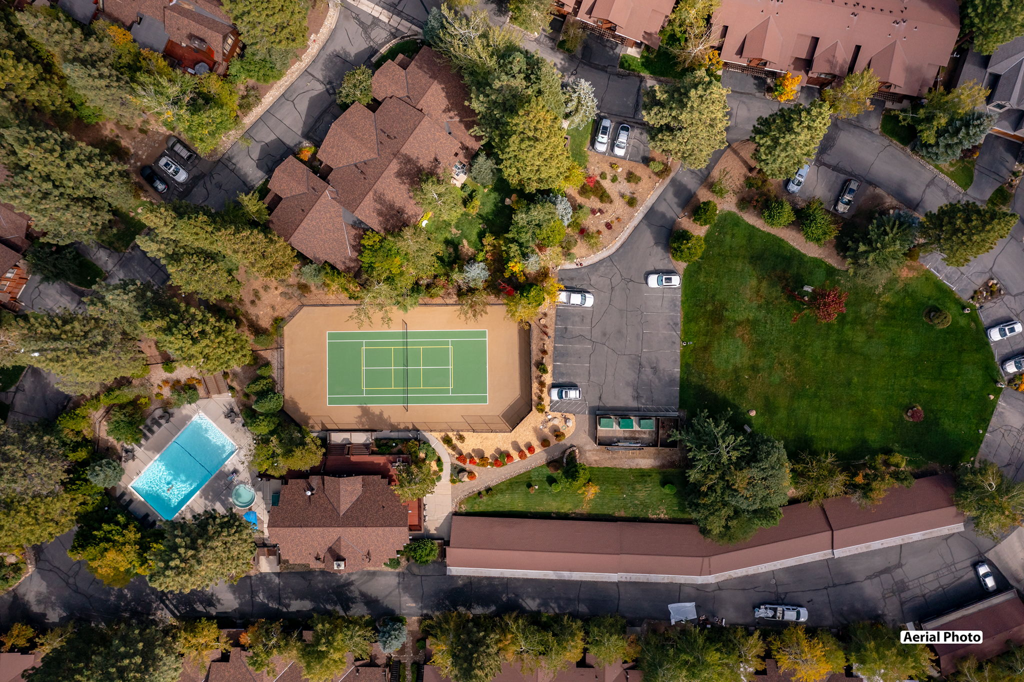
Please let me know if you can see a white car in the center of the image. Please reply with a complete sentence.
Yes, I can see a white car in the center of the image.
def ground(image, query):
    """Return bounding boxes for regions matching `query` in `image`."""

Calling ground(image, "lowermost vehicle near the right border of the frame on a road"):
[973,561,997,593]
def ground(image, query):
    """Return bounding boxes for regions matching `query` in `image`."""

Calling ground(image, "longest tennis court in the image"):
[284,306,532,431]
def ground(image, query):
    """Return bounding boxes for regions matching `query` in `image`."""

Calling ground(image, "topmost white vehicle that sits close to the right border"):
[986,320,1023,341]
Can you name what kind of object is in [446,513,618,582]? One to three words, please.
building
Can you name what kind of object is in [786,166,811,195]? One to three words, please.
car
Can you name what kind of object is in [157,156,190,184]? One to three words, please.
car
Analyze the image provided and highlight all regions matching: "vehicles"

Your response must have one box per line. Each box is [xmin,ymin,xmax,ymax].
[157,156,190,184]
[786,166,811,195]
[1000,354,1024,373]
[835,179,861,214]
[613,123,631,157]
[973,561,997,593]
[986,320,1023,341]
[550,386,581,402]
[165,135,198,165]
[594,118,612,153]
[764,603,808,623]
[556,291,594,308]
[647,272,681,289]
